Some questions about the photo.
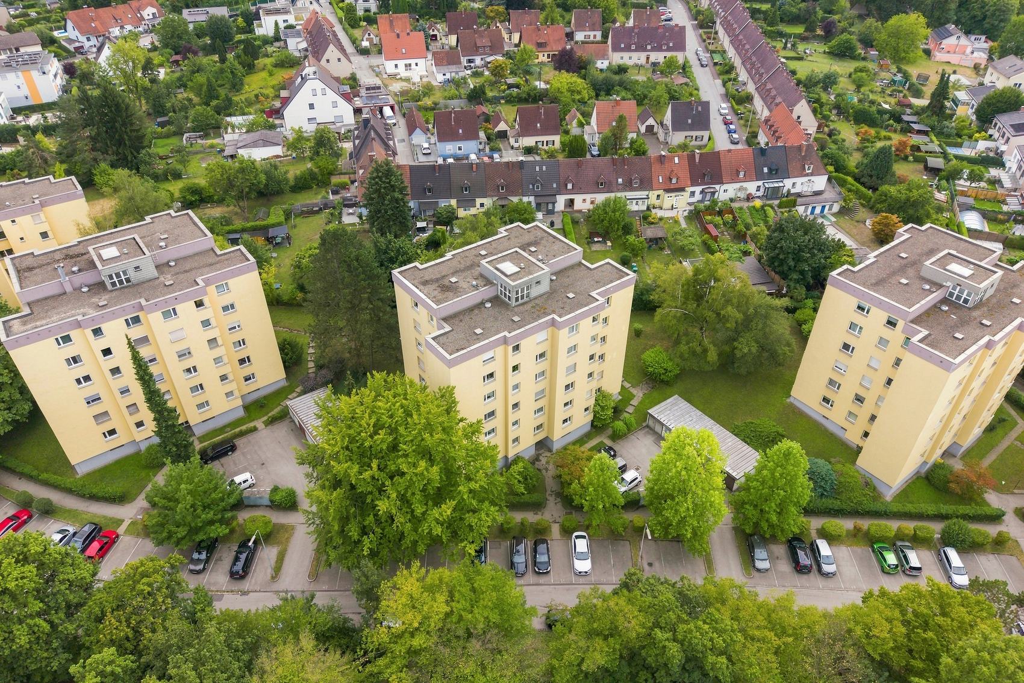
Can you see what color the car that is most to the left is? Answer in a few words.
red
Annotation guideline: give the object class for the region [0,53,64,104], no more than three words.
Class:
house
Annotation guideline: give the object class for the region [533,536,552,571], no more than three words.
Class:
car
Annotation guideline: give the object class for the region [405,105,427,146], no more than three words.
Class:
building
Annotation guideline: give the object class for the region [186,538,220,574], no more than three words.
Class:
car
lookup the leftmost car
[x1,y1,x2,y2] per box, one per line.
[0,509,32,543]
